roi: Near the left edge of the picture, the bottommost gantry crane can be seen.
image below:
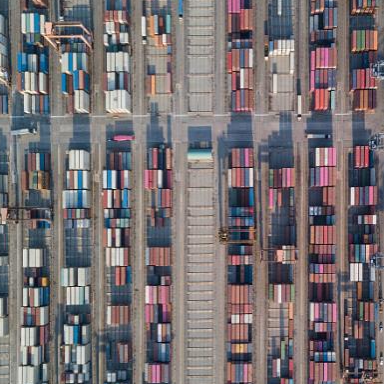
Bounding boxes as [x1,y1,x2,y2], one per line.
[0,205,53,224]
